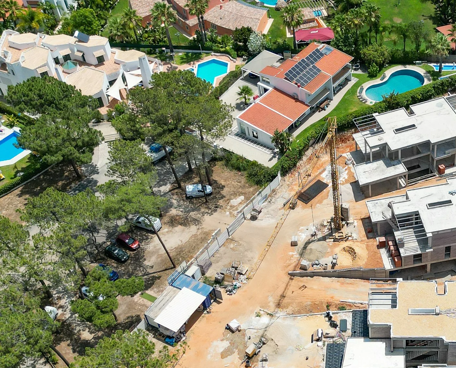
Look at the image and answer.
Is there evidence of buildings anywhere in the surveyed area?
Yes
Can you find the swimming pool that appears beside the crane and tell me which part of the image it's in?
top right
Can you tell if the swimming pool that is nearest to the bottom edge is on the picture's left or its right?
left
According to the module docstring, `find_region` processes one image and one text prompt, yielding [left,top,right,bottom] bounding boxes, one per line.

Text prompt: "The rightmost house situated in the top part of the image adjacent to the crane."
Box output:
[348,95,456,199]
